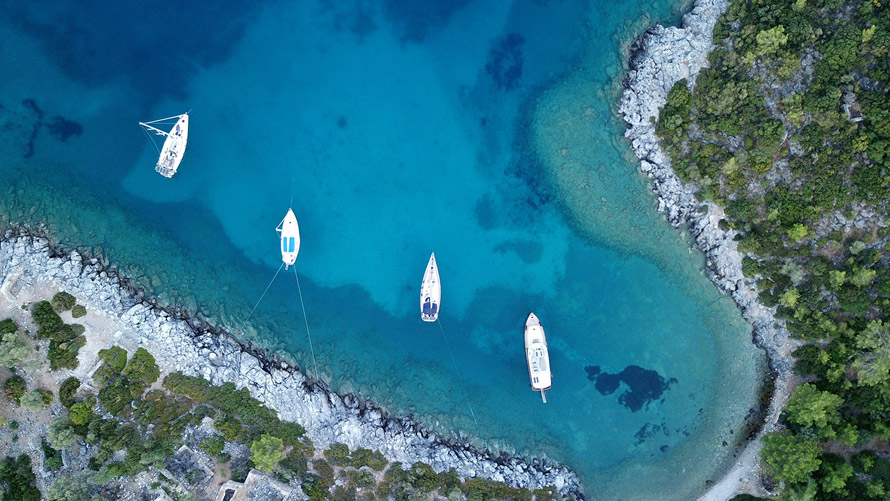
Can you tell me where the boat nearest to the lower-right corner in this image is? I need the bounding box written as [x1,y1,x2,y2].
[526,311,554,401]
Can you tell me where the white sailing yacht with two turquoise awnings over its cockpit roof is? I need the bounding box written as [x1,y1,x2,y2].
[275,207,298,270]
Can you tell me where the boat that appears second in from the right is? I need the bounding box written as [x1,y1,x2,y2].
[420,250,442,324]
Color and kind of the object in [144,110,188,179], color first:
white boat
